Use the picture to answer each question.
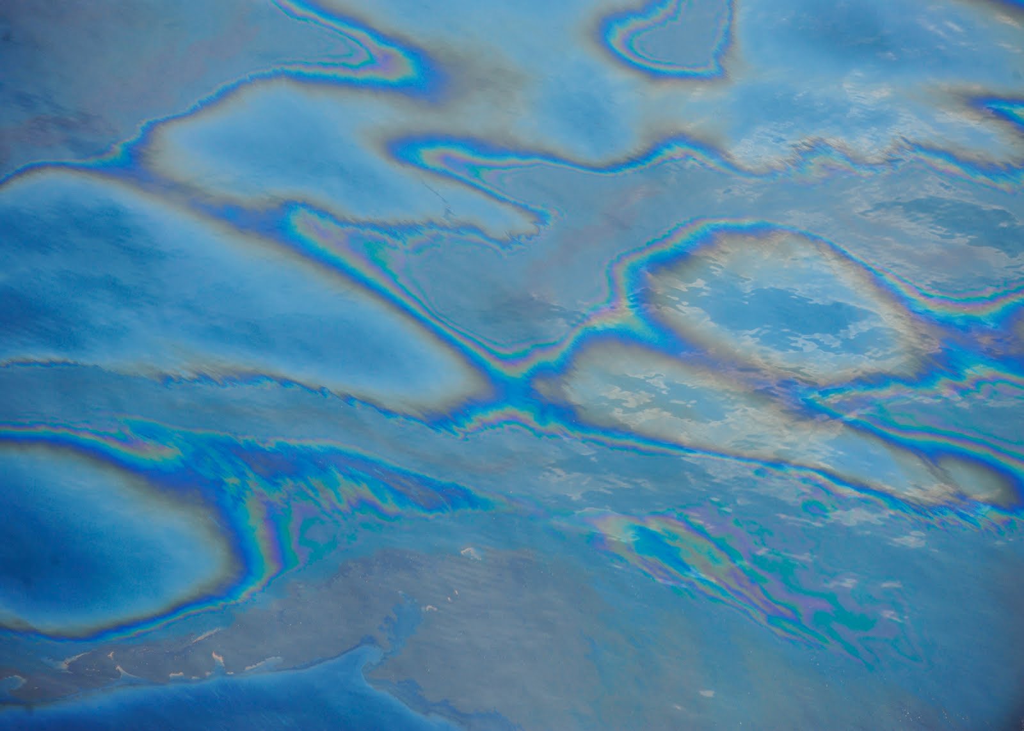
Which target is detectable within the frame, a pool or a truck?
pool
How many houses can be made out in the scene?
none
